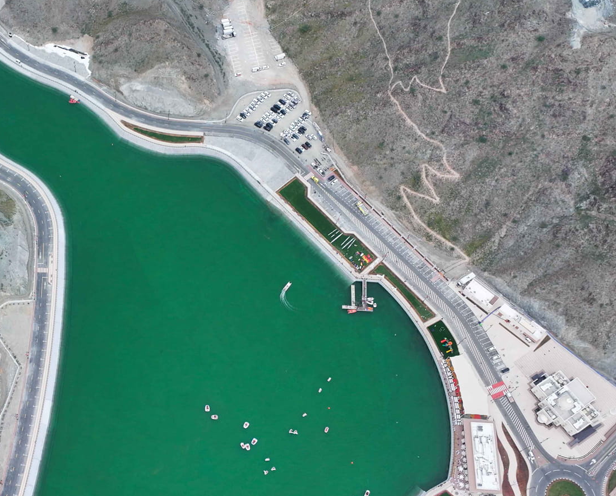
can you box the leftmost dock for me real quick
[342,280,373,312]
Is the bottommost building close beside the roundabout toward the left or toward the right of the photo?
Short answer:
right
